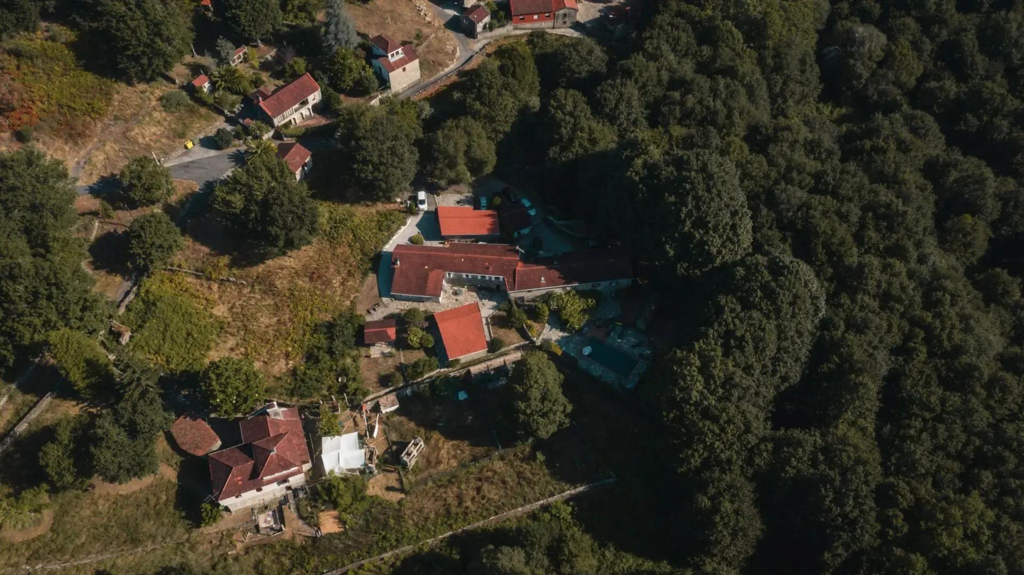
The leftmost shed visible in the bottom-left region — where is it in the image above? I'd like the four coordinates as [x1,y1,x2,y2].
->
[171,414,223,460]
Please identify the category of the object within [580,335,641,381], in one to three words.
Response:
swimming pool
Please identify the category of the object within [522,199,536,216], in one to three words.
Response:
car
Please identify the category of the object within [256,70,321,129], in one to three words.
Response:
house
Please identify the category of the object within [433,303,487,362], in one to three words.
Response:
barn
